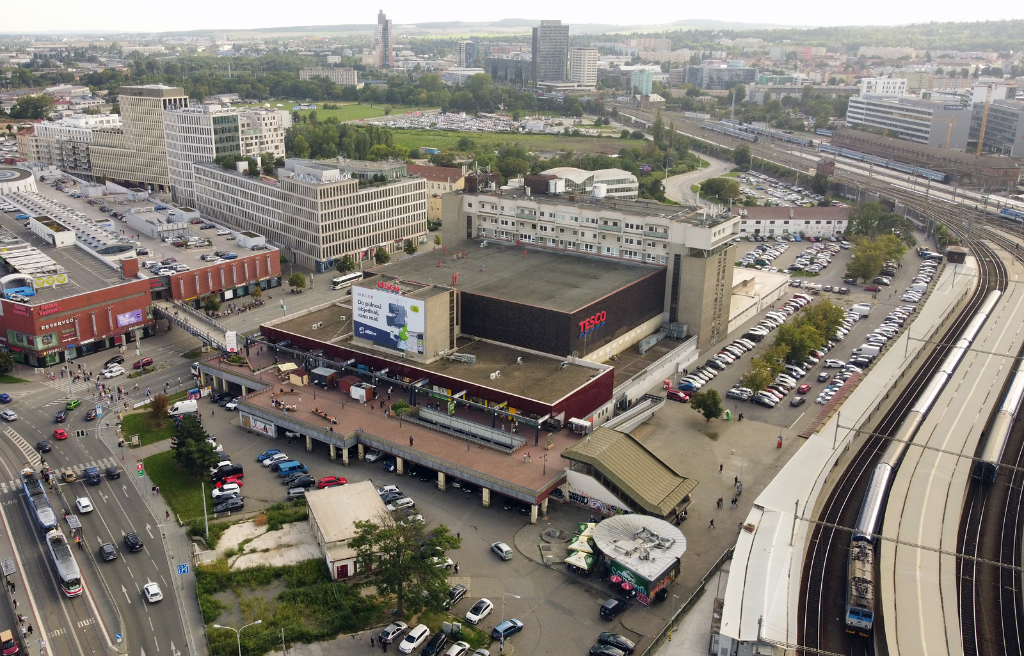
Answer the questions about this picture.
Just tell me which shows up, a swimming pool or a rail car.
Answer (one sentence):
There is a rail car in the scene.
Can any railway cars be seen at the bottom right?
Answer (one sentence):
Yes, a railway car is visible at the bottom right.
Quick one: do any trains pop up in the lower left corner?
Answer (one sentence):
Yes, the scene does show a train in the lower left corner.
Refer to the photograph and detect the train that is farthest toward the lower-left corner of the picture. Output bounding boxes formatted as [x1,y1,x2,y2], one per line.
[44,526,88,611]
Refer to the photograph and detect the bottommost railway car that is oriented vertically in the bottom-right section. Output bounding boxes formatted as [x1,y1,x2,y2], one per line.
[845,536,874,649]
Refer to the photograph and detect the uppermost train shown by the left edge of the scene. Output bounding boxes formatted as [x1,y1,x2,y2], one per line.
[19,463,56,543]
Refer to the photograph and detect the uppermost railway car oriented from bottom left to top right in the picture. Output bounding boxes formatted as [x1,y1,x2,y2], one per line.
[960,291,1003,347]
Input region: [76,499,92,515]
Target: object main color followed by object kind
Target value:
white car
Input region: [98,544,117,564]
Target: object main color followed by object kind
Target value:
gray car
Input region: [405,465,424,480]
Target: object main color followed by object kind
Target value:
black car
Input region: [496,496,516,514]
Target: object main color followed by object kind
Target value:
black car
